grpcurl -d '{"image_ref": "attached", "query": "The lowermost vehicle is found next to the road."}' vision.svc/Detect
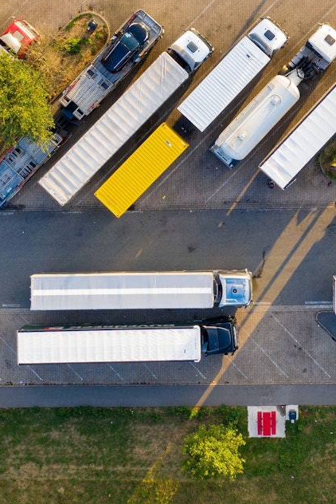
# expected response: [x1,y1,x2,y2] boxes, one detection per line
[17,318,239,365]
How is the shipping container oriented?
at an angle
